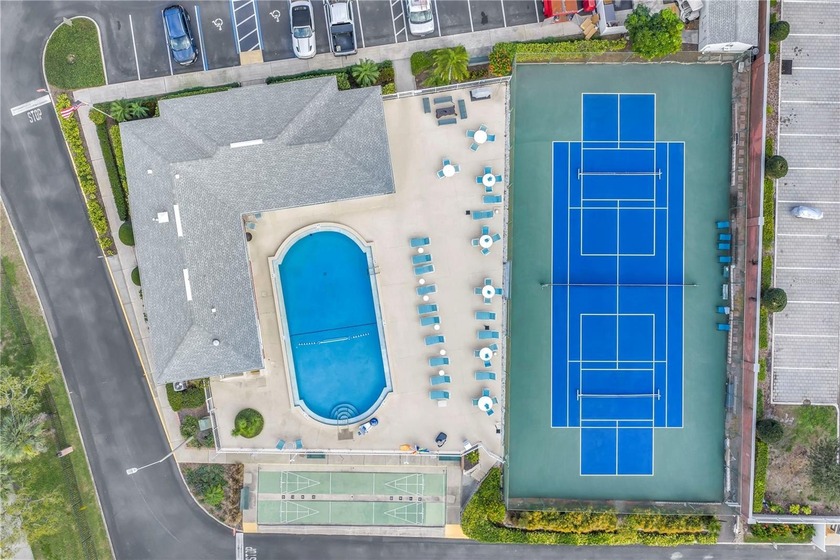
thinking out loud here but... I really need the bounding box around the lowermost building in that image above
[119,75,396,384]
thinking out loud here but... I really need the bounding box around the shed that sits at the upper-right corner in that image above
[700,0,760,57]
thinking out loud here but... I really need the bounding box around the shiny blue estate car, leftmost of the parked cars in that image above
[165,4,199,67]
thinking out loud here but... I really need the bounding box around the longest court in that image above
[503,60,736,501]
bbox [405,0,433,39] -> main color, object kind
white car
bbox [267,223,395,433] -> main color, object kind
blue swimming pool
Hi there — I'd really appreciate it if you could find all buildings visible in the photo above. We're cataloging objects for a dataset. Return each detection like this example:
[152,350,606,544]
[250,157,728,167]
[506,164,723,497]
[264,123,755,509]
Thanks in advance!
[119,75,396,384]
[700,0,760,57]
